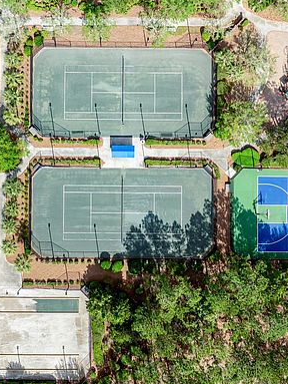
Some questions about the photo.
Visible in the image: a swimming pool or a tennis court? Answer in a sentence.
It is a tennis court that can be seen here.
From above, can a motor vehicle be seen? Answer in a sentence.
No, this view has no motor vehicle in it.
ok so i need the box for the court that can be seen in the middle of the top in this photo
[31,47,214,136]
